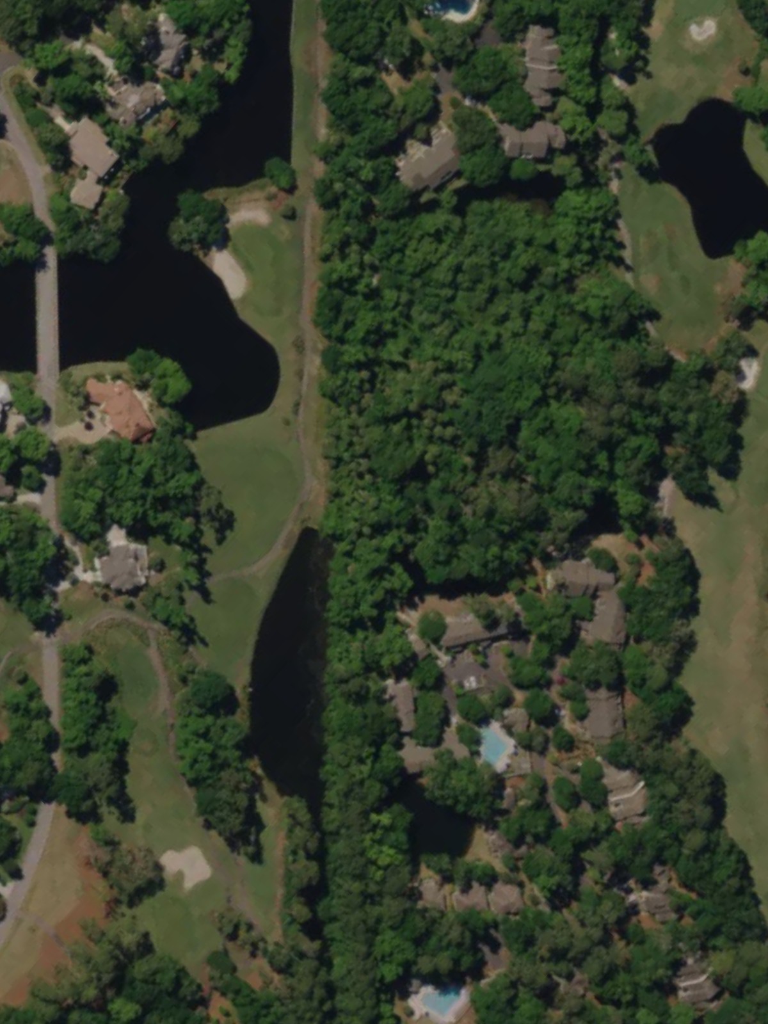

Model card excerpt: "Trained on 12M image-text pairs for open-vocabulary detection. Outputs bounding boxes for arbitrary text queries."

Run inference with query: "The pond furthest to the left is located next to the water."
[0,0,292,430]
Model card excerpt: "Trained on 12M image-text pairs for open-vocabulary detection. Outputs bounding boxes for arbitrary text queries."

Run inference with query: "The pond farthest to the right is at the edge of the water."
[653,98,768,258]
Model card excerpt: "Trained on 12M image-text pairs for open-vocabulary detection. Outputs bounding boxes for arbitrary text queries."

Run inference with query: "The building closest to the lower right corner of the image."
[677,960,720,1010]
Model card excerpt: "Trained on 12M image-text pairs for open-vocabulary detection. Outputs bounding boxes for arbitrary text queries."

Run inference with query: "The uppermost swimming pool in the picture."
[428,0,478,21]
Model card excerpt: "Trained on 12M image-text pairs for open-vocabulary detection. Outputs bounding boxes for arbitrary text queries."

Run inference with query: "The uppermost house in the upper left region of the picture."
[155,15,188,69]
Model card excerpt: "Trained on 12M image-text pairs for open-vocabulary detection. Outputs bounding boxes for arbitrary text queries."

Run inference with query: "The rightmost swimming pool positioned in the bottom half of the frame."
[478,718,516,772]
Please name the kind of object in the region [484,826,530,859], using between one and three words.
house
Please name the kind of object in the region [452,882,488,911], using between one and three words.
house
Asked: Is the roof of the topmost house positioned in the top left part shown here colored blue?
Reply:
No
